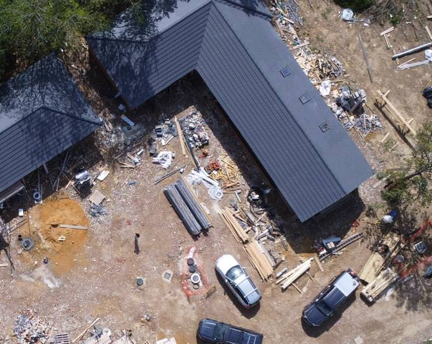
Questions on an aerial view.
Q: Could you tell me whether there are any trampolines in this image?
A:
No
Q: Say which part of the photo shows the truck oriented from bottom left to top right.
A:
bottom right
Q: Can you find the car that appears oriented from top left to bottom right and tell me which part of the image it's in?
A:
bottom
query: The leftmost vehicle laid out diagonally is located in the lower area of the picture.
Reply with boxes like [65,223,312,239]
[214,251,263,312]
